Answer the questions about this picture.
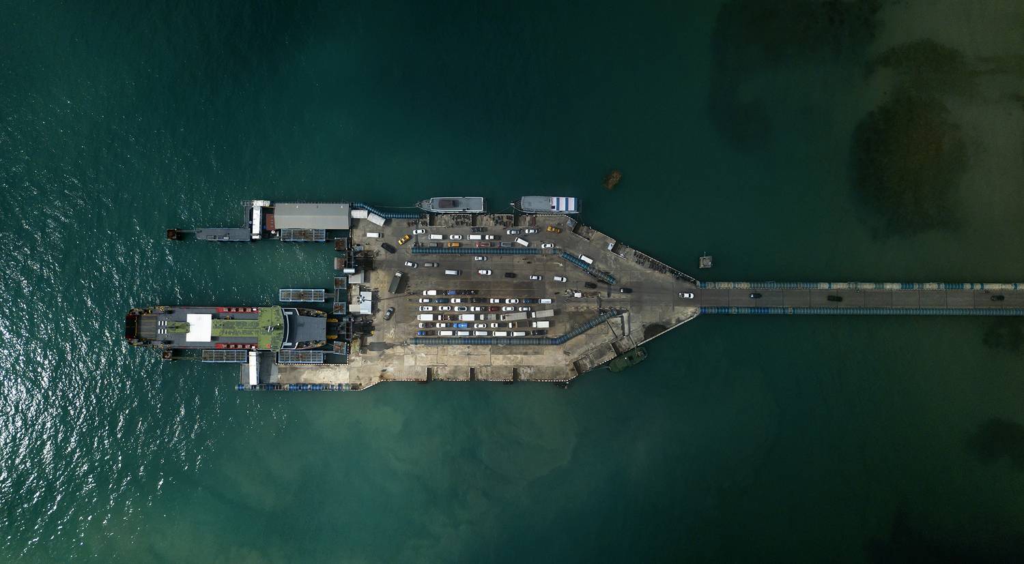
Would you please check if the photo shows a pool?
No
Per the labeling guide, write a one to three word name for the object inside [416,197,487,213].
boat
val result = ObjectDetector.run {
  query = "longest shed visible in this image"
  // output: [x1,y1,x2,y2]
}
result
[273,200,351,229]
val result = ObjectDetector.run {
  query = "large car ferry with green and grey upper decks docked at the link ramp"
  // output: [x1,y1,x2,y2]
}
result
[126,306,328,351]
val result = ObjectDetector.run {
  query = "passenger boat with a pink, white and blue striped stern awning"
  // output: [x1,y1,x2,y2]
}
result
[510,196,581,214]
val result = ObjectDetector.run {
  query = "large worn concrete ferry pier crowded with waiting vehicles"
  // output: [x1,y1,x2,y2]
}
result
[241,204,702,390]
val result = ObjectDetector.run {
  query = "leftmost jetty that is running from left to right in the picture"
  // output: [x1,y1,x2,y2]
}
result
[196,228,252,241]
